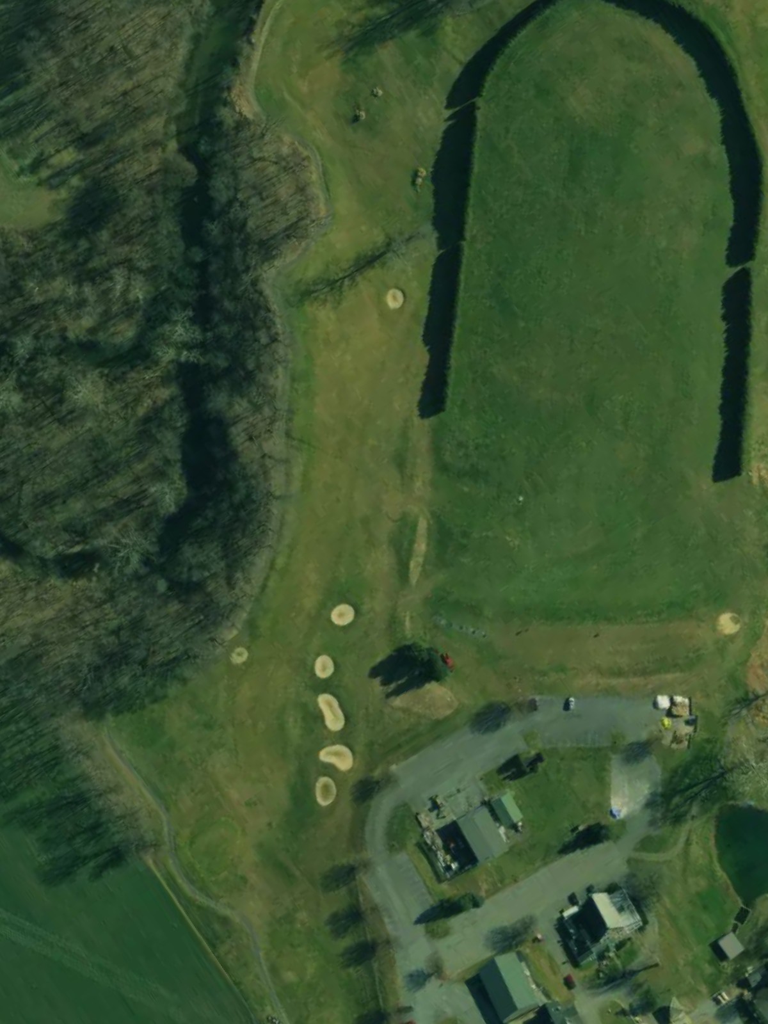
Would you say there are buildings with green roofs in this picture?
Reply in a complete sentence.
Yes, I can see a building with a green roof in this picture.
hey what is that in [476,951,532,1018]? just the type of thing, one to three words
barn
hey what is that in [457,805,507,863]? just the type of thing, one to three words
building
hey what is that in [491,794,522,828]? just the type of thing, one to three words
shed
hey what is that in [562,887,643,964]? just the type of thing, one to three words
house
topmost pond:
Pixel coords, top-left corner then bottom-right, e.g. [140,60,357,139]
[715,803,768,908]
